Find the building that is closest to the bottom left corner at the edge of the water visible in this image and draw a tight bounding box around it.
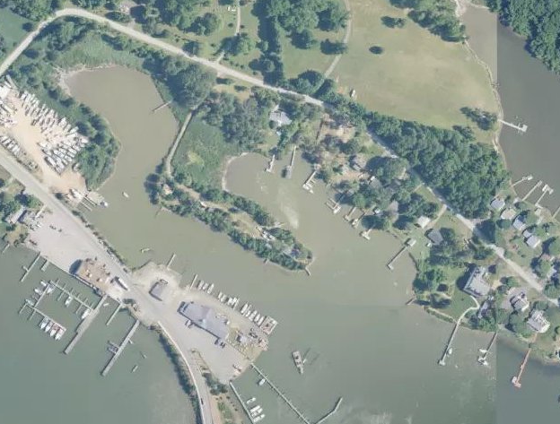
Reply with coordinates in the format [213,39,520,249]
[76,260,111,291]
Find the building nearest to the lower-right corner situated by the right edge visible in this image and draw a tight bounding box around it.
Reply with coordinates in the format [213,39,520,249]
[526,311,554,336]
